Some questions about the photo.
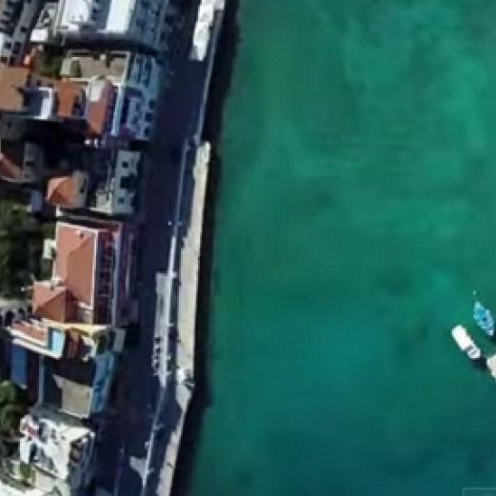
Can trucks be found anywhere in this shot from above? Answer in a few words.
No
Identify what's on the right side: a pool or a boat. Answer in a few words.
boat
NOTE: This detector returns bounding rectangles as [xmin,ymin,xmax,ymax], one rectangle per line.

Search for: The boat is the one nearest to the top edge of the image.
[474,302,493,337]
